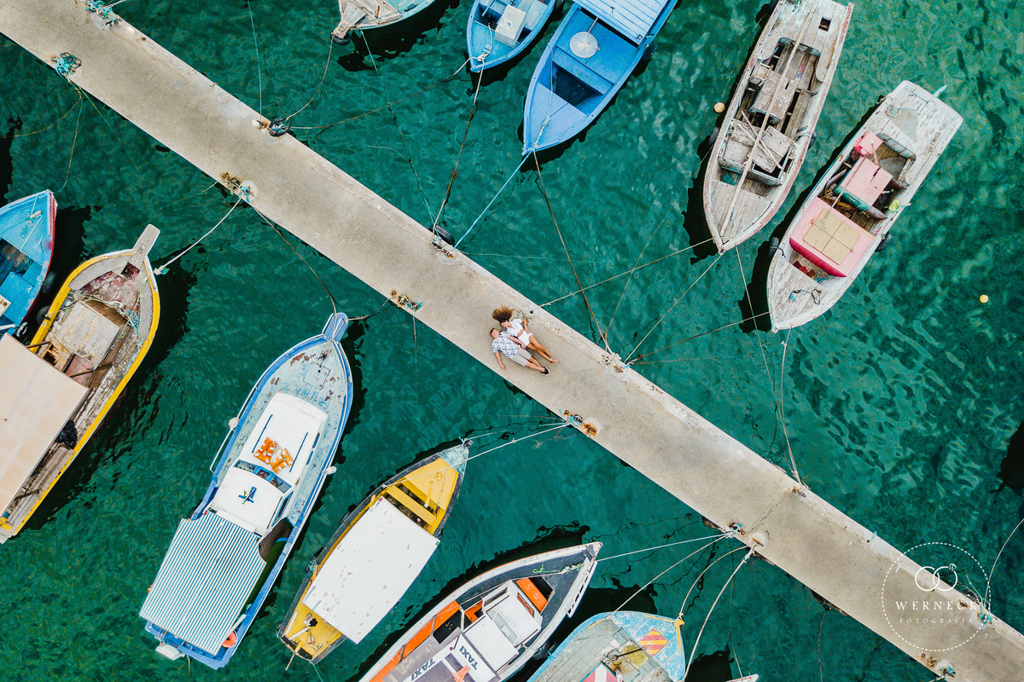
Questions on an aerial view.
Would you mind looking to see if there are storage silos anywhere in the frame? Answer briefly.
No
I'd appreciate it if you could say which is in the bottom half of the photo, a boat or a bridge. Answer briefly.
boat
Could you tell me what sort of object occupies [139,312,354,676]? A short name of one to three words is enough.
boat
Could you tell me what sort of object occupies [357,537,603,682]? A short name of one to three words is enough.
boat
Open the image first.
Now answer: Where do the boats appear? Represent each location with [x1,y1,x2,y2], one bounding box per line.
[139,312,354,676]
[0,189,75,341]
[522,0,677,157]
[357,537,603,682]
[332,0,440,42]
[277,438,474,671]
[0,224,168,545]
[701,0,853,254]
[464,0,557,80]
[762,81,961,333]
[526,606,686,682]
[698,662,759,682]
